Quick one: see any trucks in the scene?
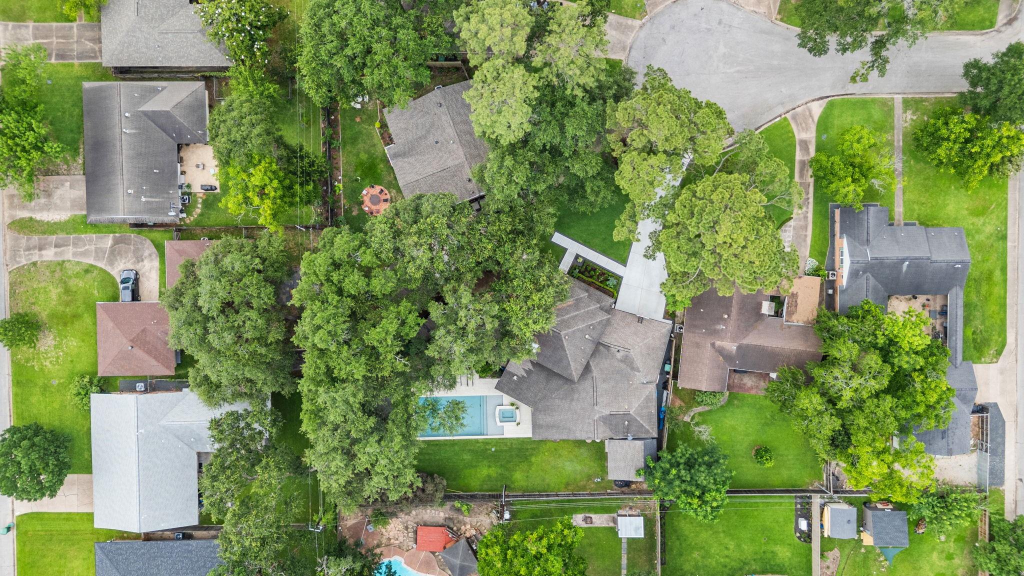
No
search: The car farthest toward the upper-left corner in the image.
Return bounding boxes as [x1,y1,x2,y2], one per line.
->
[119,270,141,301]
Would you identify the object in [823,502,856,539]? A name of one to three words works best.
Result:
shed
